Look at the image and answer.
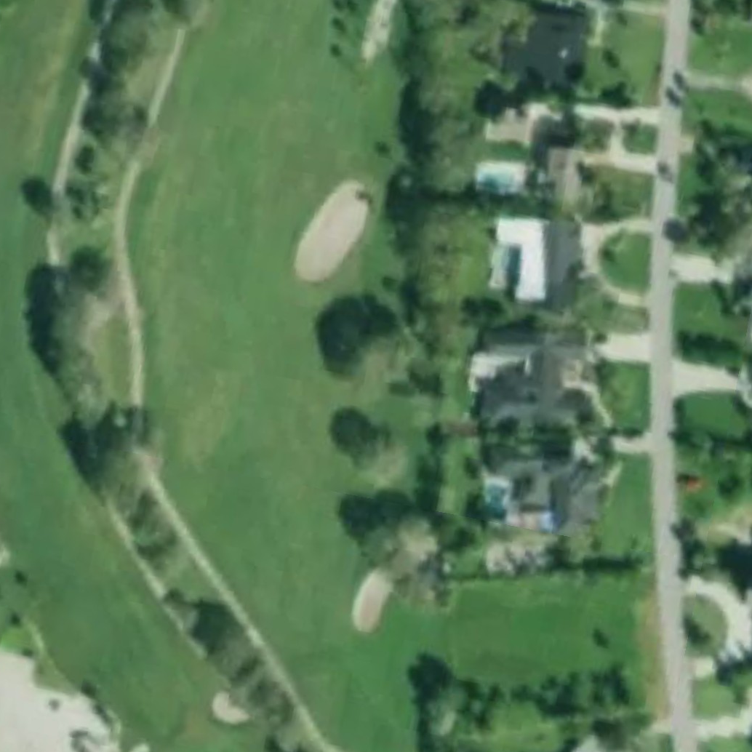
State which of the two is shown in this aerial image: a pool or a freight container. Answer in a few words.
pool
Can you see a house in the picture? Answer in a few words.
Yes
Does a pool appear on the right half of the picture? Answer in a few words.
Yes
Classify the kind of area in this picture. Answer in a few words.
golf course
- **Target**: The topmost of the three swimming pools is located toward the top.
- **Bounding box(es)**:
[476,164,527,195]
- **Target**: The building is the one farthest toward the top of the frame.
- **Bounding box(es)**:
[502,8,588,84]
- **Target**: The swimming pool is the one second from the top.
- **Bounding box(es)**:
[491,245,521,290]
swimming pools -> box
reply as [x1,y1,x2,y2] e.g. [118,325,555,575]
[476,164,527,195]
[491,245,521,290]
[485,478,510,523]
